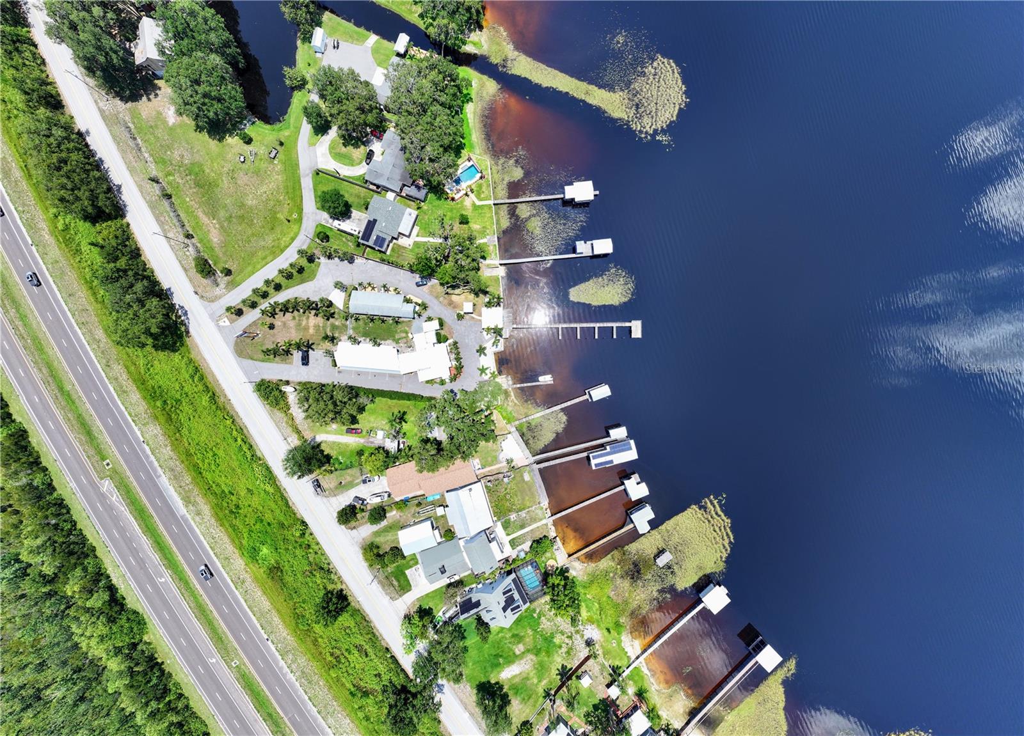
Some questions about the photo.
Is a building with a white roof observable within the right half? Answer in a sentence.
Yes, a building with a white roof can be seen within the right half.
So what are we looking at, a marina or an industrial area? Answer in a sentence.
This image shows a marina.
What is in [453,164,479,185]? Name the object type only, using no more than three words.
swimming pool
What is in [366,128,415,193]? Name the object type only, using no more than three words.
house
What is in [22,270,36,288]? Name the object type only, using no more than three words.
vehicle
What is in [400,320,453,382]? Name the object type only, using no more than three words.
building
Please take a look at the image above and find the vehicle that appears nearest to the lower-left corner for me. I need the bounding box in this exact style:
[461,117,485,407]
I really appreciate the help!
[197,565,210,582]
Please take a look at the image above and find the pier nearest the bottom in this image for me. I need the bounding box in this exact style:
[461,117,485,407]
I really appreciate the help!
[675,660,758,736]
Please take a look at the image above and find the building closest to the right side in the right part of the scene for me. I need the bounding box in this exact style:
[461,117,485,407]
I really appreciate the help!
[750,635,783,673]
